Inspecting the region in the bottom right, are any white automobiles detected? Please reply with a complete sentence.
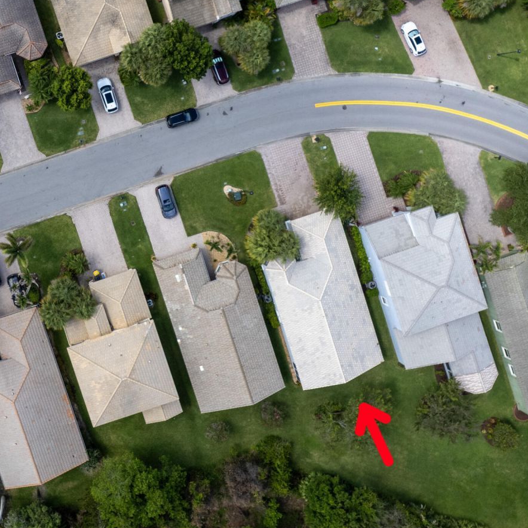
No, I see no white automobile in the bottom right.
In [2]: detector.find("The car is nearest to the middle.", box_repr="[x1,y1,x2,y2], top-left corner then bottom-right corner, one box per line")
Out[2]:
[154,183,177,220]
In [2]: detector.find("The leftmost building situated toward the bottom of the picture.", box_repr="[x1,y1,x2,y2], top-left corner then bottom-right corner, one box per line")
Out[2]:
[0,307,89,490]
